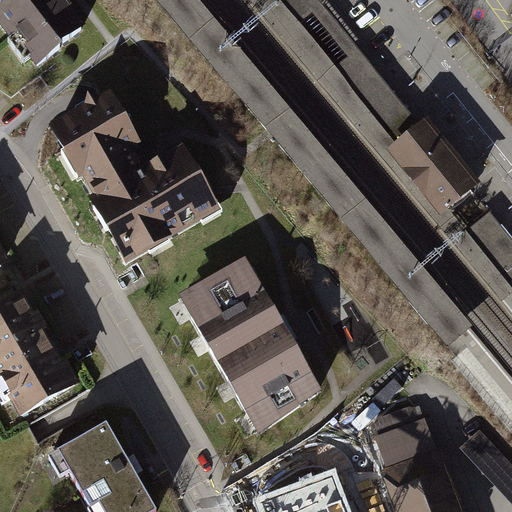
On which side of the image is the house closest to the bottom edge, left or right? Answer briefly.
right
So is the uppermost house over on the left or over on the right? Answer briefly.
left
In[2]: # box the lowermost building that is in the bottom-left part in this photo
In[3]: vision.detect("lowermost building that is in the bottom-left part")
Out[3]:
[48,420,156,512]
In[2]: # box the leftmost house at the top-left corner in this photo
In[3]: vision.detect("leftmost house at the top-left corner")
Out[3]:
[0,0,82,70]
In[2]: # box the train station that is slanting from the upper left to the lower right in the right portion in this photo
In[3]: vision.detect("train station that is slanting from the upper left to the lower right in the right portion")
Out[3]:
[156,0,512,430]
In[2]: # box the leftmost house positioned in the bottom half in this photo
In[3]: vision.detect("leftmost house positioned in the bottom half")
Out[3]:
[0,276,78,419]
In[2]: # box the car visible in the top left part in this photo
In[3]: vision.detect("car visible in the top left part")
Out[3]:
[1,106,22,123]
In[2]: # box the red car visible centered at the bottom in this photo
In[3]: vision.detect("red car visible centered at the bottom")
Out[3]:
[198,452,212,470]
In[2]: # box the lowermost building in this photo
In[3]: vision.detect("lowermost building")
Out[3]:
[388,476,452,512]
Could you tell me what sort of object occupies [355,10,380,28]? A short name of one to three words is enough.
car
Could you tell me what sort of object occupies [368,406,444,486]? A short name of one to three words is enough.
building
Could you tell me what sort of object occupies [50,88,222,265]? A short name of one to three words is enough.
house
